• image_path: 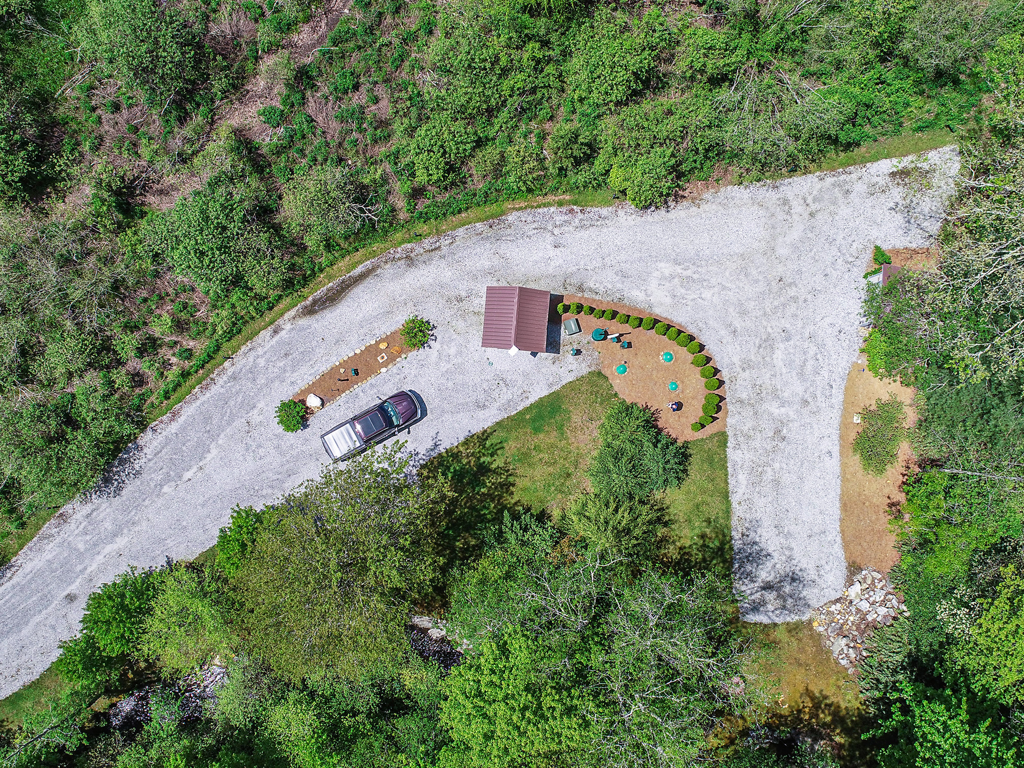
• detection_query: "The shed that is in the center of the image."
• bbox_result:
[481,286,551,352]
